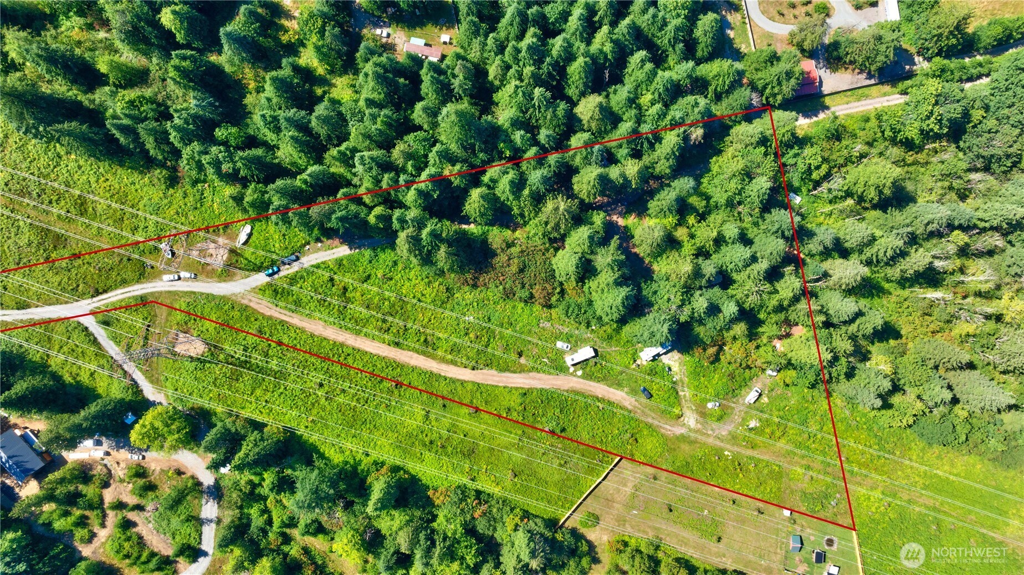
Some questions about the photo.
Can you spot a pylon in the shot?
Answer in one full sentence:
Yes, looking at the shot, I can spot a pylon.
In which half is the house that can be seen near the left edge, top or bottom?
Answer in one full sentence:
The house that can be seen near the left edge sits in the bottom half of the picture.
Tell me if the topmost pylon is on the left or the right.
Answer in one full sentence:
The topmost pylon sits on the left side.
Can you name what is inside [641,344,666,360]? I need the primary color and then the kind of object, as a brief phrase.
white vehicle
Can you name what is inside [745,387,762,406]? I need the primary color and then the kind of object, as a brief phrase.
white vehicle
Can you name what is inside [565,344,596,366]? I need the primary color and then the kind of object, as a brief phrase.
white camper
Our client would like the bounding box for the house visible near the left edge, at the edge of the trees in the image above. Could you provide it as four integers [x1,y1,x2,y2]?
[0,422,52,482]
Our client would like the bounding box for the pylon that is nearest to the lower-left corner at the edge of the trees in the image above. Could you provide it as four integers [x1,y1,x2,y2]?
[119,322,208,385]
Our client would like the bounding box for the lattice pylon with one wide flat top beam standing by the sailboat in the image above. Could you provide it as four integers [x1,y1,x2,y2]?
[157,221,229,276]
